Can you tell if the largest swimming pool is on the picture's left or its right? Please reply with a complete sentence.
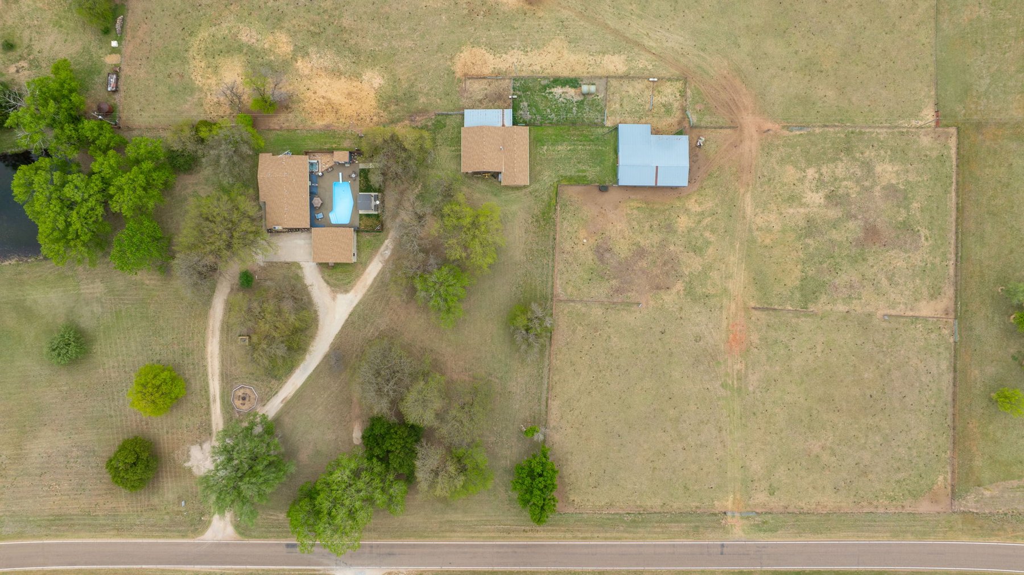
The largest swimming pool is on the left side of the image.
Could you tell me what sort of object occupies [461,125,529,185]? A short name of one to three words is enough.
shed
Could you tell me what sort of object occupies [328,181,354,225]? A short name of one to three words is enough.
swimming pool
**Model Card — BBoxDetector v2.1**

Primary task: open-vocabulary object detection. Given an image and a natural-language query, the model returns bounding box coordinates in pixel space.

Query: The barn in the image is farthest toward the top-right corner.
[616,123,690,187]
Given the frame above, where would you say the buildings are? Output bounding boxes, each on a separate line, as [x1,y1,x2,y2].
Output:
[358,195,373,210]
[257,153,312,228]
[312,228,356,263]
[461,125,529,185]
[333,151,351,162]
[616,123,690,187]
